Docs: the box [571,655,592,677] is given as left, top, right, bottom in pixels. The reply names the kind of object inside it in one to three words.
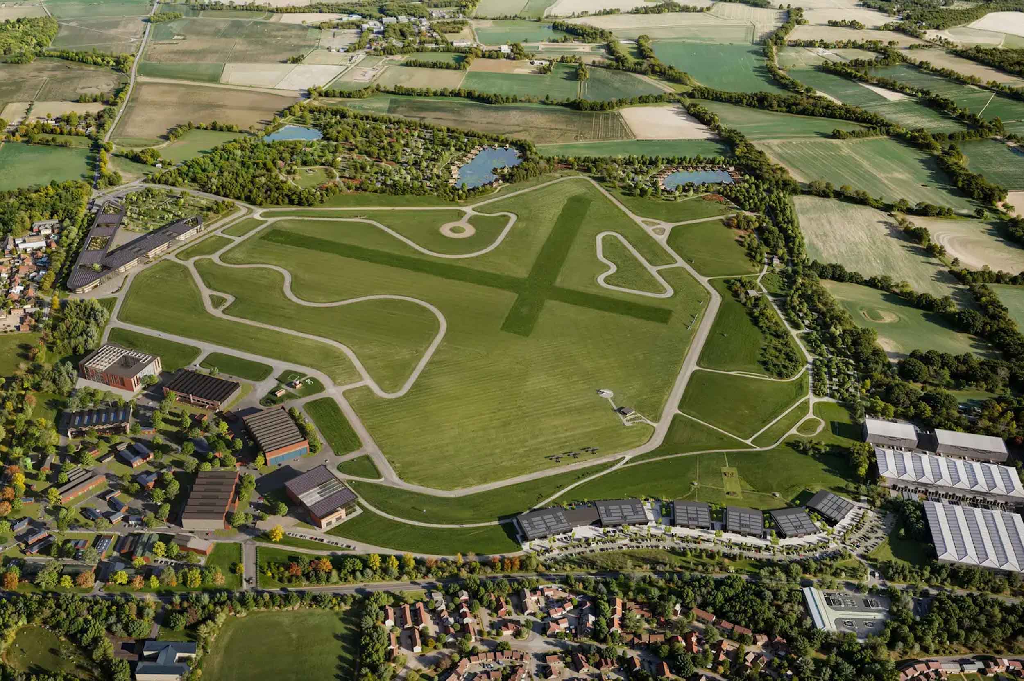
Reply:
house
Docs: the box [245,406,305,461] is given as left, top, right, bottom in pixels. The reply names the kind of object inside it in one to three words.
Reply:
hangar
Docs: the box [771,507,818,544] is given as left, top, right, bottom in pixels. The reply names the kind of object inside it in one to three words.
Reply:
shed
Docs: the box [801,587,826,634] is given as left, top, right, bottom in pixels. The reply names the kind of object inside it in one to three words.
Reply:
building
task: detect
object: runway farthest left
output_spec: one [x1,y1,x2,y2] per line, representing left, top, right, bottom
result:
[259,229,520,288]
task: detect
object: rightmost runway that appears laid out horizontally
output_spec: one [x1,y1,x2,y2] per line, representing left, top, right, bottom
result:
[503,274,673,324]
